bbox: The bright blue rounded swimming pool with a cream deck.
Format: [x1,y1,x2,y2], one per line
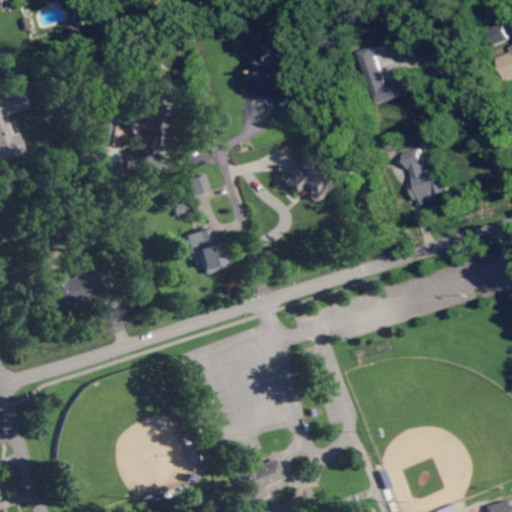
[36,4,68,29]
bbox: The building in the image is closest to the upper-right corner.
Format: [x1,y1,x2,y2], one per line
[488,24,510,49]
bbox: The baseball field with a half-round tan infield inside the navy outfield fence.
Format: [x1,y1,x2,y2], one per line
[56,366,208,507]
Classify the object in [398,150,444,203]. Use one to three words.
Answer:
house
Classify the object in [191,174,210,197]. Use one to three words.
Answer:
building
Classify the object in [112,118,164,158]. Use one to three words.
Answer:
house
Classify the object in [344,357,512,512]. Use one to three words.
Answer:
baseball field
